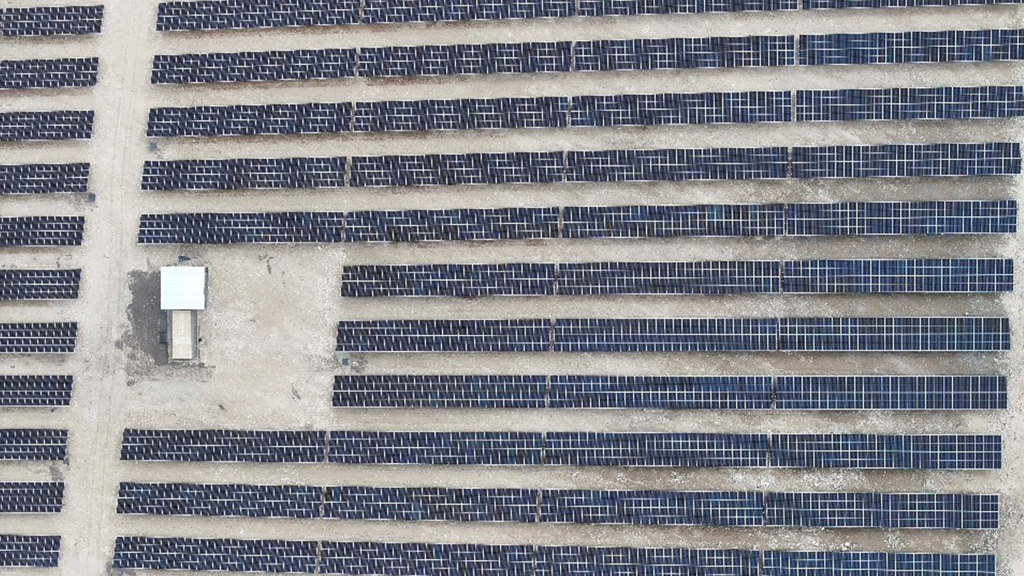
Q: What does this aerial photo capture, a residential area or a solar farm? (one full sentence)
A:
This looks like a solar farm.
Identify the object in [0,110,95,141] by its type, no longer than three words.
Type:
solar array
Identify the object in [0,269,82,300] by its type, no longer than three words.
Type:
solar array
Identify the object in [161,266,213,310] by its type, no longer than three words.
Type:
shed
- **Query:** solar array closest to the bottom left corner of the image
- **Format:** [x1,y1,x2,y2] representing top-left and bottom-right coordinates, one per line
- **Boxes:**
[0,534,61,567]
